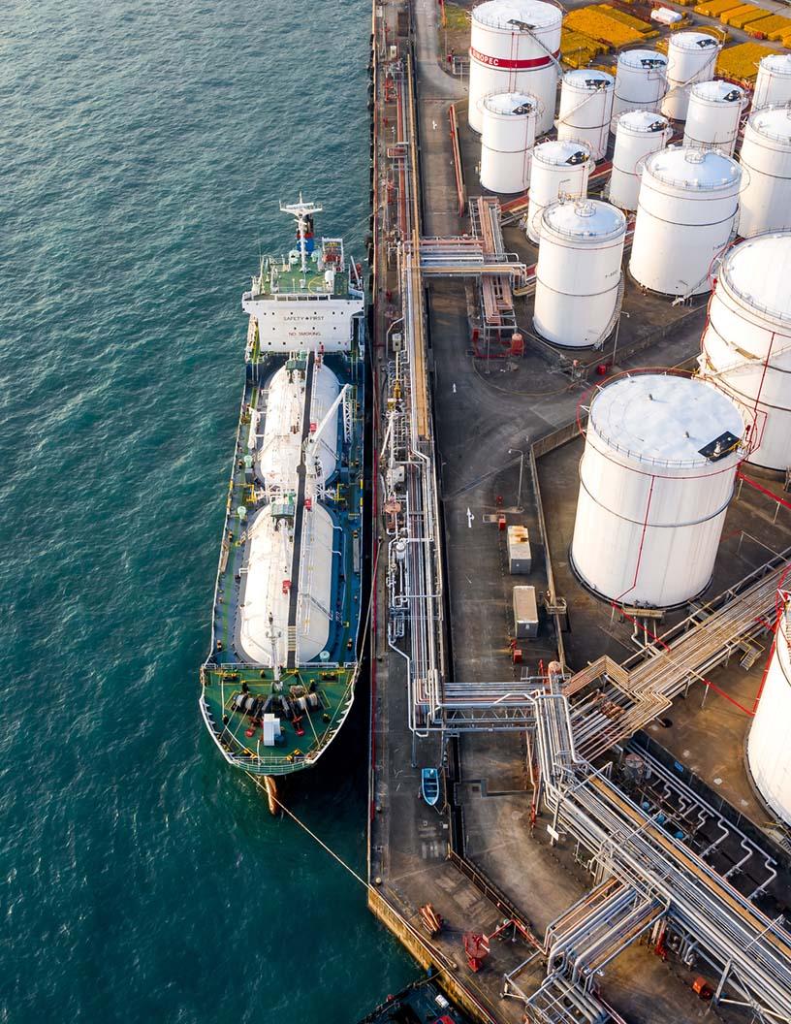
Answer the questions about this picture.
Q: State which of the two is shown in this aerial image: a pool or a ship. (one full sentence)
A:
The image shows a ship.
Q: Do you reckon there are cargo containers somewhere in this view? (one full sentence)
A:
Yes, there is a cargo container in the image.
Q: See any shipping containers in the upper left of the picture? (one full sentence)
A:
No, no shipping container is visible in the upper left of the picture.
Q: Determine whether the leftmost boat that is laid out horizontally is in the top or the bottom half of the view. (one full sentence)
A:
You can find the leftmost boat that is laid out horizontally in the bottom half.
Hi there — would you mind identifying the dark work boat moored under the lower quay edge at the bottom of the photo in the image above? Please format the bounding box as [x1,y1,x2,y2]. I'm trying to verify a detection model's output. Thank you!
[368,980,467,1024]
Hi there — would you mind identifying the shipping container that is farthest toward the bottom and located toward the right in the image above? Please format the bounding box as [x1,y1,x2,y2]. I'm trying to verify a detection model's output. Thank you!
[511,581,540,637]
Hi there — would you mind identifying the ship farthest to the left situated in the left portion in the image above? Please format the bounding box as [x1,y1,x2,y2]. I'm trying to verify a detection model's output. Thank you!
[198,185,368,820]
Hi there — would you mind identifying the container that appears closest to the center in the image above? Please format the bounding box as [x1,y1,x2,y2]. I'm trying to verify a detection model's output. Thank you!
[506,526,533,573]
